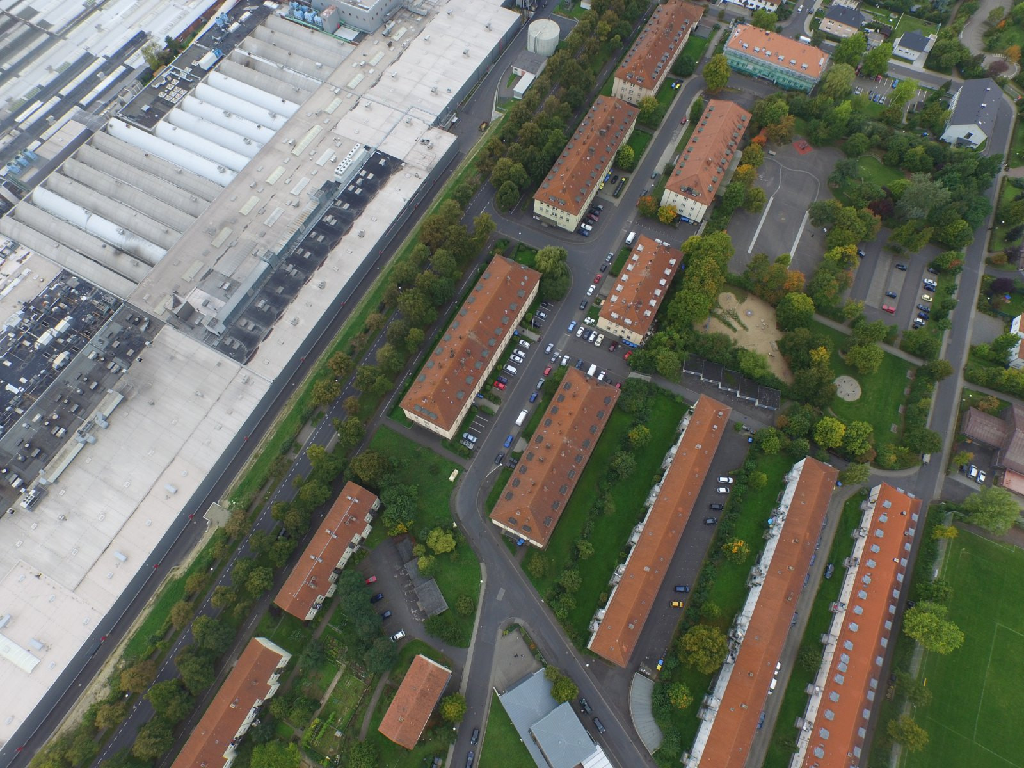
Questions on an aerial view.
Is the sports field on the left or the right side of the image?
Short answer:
right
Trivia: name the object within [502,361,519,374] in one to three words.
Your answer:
vehicle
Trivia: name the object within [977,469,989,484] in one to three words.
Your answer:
vehicle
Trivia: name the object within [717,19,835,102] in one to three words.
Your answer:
house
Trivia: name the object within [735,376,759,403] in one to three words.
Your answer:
building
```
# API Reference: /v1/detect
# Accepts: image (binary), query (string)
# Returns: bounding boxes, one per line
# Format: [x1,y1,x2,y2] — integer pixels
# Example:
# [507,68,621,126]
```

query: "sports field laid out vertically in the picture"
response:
[908,530,1024,768]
